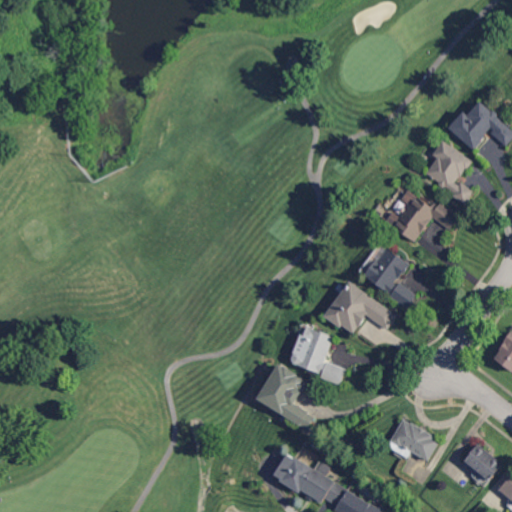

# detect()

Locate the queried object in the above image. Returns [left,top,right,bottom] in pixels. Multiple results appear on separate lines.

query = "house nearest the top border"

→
[450,102,512,148]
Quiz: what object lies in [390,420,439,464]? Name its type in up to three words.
house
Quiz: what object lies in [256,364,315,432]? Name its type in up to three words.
house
